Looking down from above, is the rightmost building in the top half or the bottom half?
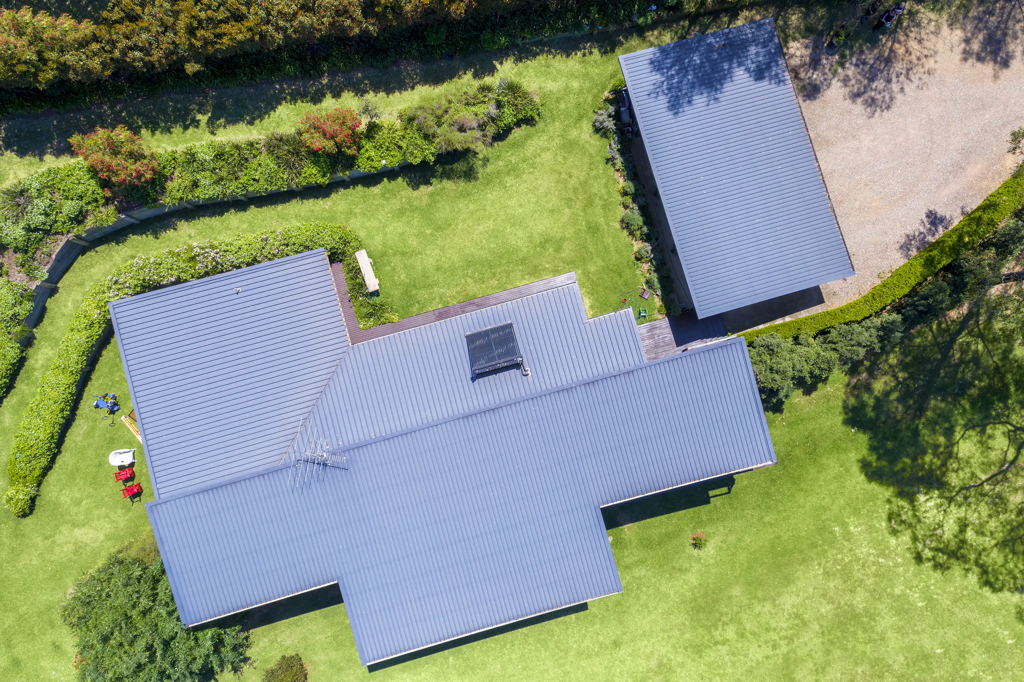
top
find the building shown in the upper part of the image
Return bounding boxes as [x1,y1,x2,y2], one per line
[618,17,857,319]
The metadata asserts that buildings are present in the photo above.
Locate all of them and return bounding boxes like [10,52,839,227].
[618,17,857,319]
[107,247,777,667]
